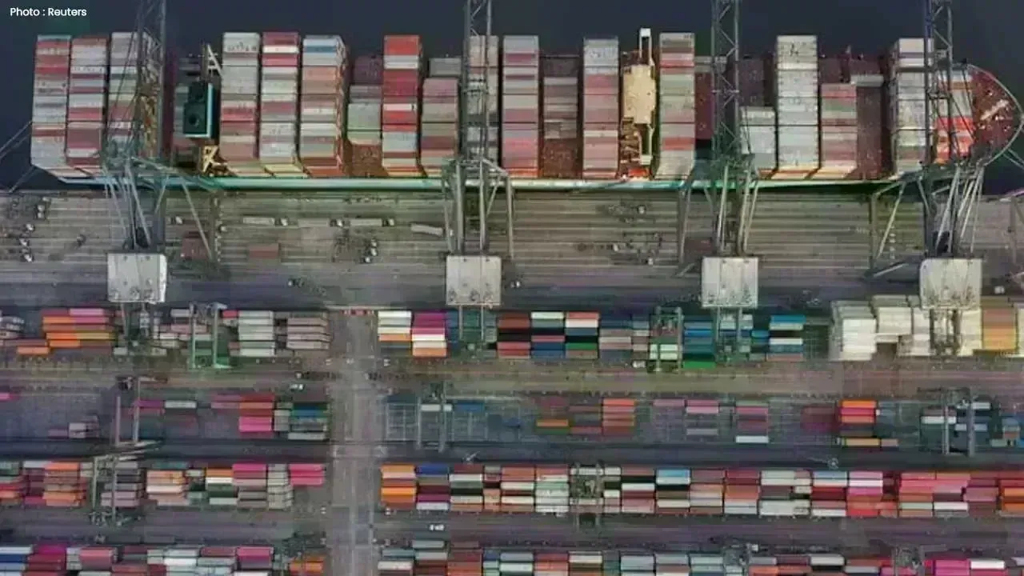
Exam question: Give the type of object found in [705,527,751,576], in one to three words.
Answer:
container crane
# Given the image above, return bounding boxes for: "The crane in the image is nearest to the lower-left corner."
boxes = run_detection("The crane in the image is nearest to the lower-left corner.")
[90,444,152,525]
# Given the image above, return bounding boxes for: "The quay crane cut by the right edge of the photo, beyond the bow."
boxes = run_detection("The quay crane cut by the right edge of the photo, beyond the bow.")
[977,194,1024,288]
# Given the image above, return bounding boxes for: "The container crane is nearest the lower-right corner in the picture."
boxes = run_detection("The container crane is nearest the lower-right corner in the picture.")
[863,528,922,576]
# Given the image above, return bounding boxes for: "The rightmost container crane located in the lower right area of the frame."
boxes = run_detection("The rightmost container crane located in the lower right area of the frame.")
[910,382,973,459]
